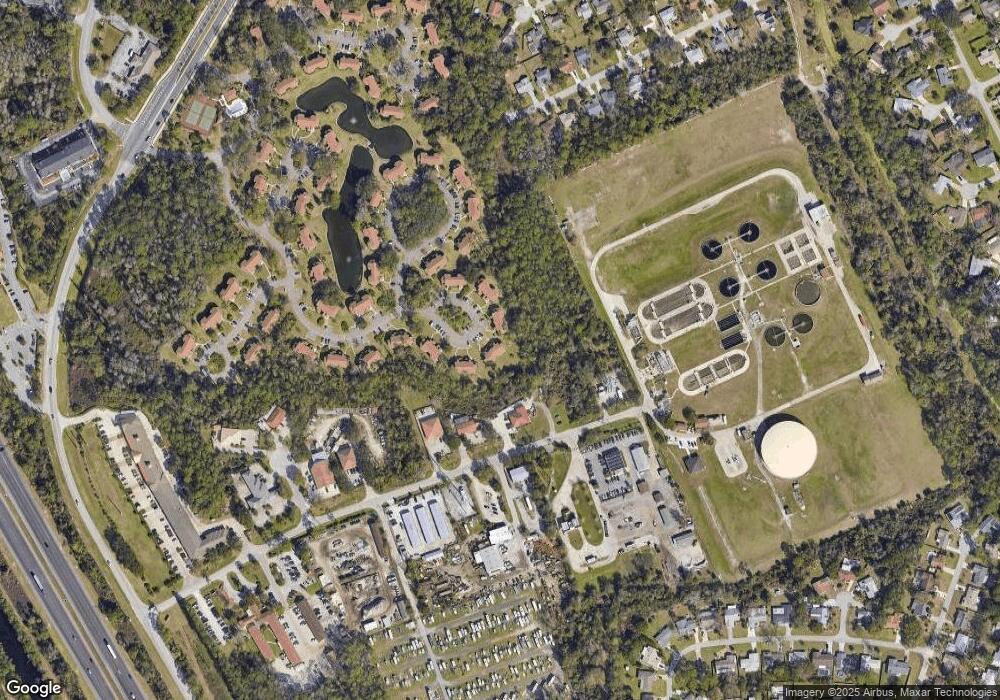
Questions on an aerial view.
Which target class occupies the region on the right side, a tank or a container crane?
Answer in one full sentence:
The one visible on the right side is a tank.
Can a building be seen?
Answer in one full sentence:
Yes, there is a building in the image.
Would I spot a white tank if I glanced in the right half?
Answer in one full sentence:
Yes, a white tank is visible in the right half.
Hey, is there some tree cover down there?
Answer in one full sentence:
Yes, tree cover can be seen from above here.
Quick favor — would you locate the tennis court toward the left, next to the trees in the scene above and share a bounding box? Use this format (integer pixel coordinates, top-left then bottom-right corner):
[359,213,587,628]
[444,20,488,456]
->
[181,94,219,139]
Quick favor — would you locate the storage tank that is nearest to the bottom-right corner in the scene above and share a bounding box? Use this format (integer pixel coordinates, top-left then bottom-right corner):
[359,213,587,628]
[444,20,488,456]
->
[761,421,818,478]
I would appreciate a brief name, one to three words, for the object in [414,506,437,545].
shed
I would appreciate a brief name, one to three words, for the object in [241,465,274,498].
building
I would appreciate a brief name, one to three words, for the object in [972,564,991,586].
house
